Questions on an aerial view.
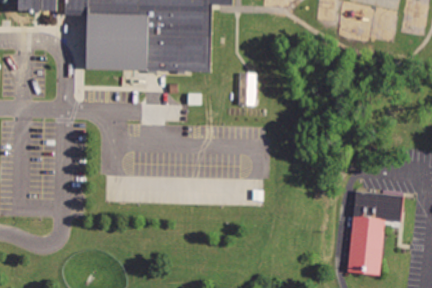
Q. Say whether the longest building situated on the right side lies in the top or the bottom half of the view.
bottom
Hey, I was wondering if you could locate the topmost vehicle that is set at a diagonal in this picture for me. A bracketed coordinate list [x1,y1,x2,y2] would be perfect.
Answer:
[3,54,18,71]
